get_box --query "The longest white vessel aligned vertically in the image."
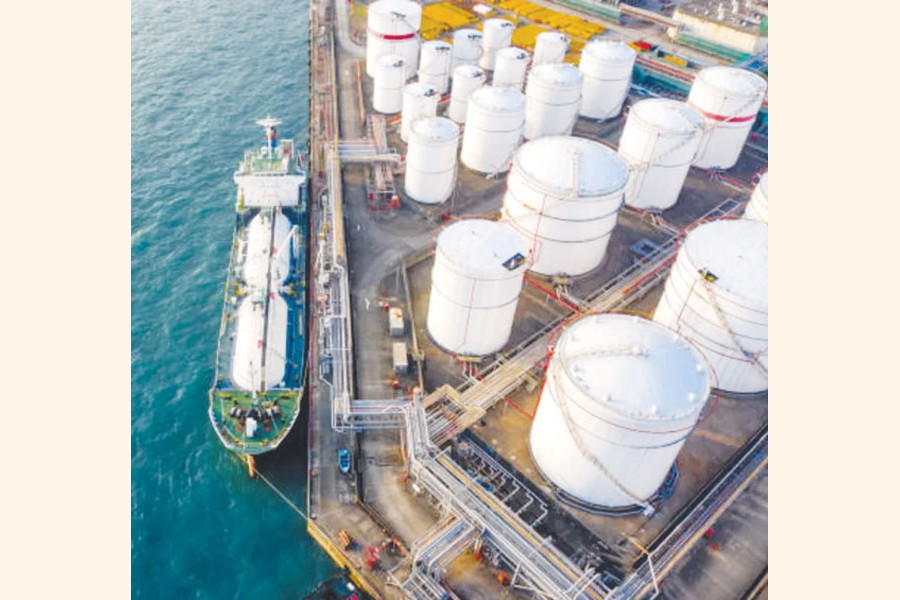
[209,111,309,478]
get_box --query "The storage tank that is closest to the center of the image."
[427,222,531,358]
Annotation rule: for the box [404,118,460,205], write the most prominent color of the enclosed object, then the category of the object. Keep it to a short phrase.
white storage tank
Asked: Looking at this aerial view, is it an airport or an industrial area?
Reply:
industrial area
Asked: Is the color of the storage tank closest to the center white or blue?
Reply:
white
